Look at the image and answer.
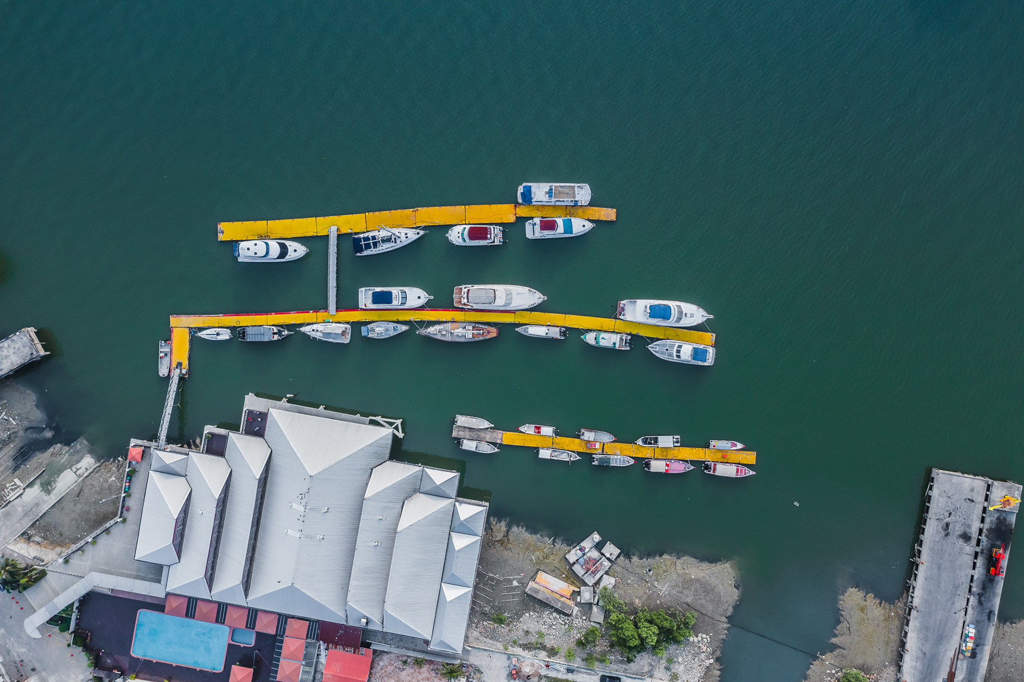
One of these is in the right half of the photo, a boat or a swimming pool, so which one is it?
boat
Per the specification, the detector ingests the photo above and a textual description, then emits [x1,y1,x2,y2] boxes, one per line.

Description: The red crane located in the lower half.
[985,542,1007,576]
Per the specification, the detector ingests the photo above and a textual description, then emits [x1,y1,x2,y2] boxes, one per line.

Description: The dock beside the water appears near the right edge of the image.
[890,467,1022,682]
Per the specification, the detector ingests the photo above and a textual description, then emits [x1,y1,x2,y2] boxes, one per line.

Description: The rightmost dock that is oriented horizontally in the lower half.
[454,425,756,464]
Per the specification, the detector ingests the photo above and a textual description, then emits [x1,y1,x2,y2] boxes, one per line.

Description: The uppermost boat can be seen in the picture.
[517,183,593,206]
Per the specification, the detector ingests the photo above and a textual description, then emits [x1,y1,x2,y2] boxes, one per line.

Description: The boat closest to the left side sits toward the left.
[158,337,170,377]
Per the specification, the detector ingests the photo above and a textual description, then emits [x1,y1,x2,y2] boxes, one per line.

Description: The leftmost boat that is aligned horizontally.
[194,328,234,340]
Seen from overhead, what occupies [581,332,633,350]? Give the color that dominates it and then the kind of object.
white boat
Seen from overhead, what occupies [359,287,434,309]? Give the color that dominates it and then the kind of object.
white boat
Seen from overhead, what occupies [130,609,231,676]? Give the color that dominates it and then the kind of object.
blue swimming pool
